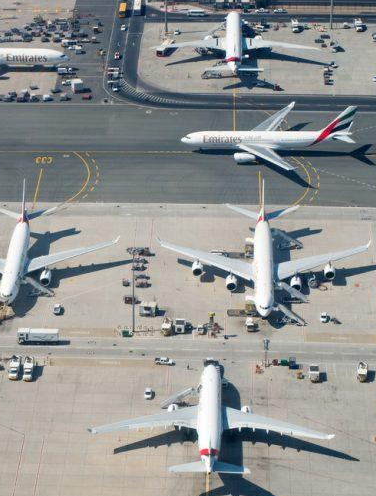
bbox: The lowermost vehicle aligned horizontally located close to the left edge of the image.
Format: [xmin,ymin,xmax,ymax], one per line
[17,328,58,344]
